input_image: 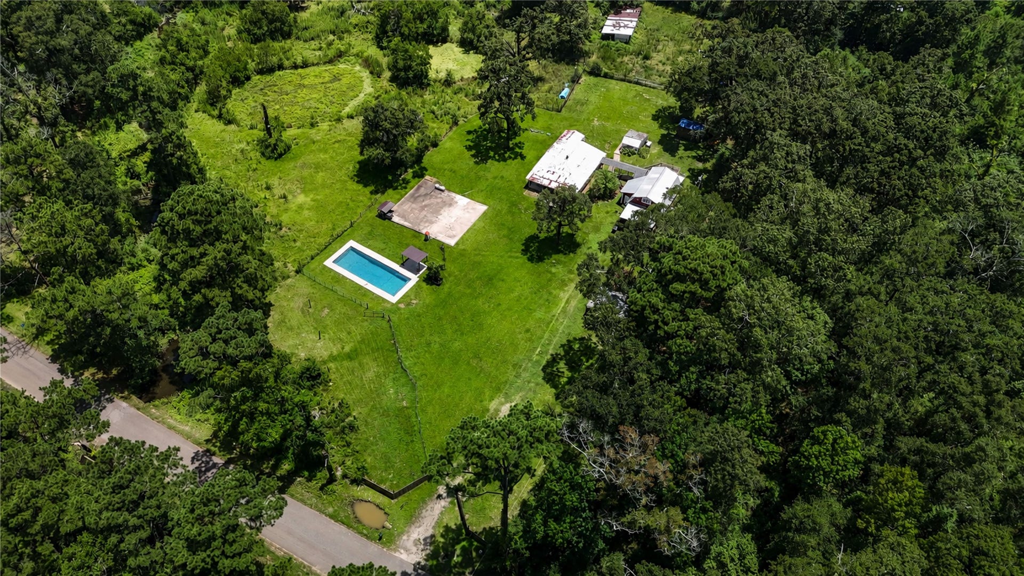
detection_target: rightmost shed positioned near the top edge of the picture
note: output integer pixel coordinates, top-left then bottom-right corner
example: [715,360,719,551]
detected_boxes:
[602,6,633,44]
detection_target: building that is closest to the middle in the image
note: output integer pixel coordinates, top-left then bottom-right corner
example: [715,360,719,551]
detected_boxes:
[400,245,429,275]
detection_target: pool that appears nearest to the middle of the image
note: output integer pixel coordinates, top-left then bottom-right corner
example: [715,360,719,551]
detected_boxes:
[323,240,420,304]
